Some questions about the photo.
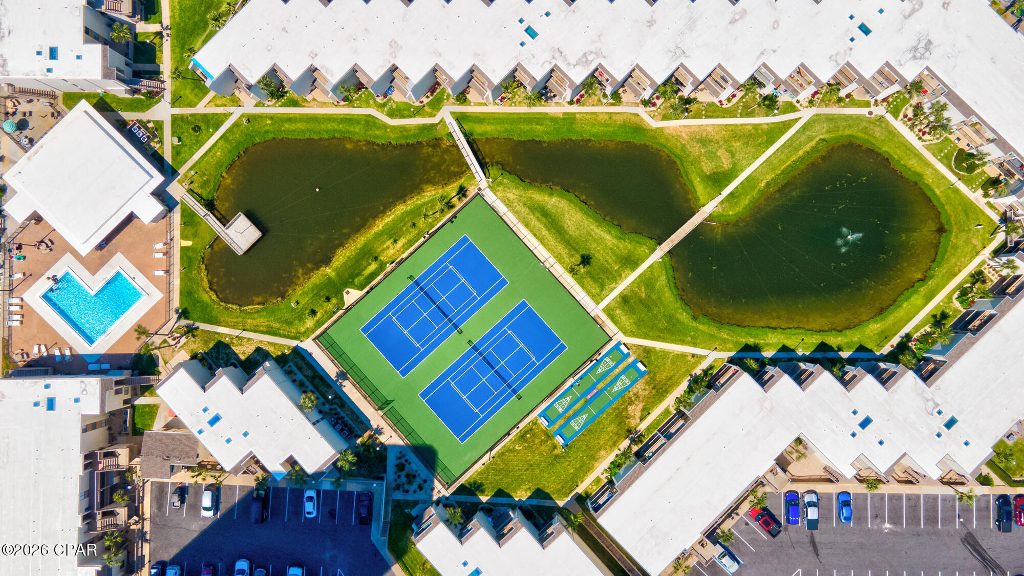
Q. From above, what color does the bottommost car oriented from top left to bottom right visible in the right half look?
white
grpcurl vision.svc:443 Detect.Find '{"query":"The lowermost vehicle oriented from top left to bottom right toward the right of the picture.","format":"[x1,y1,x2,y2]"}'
[716,545,739,572]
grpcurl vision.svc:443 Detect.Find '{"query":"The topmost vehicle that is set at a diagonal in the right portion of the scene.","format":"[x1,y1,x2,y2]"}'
[752,507,784,538]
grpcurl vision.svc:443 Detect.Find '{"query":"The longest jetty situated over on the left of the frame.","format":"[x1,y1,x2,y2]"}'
[178,191,263,255]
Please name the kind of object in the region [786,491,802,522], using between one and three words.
car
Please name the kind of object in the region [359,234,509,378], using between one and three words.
tennis court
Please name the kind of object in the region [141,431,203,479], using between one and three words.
house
